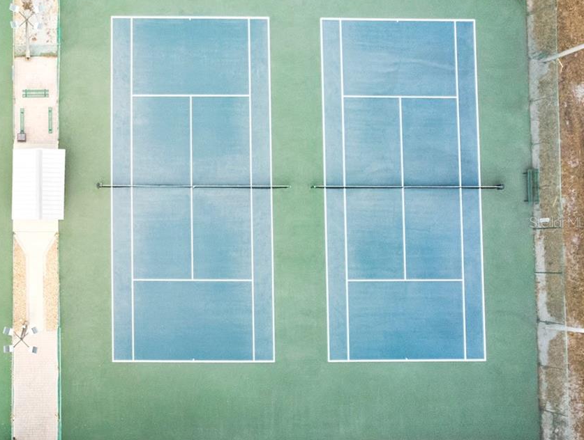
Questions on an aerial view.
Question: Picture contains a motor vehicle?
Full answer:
No, there isn't any motor vehicle down there.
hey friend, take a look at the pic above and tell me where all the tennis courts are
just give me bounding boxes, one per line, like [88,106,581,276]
[320,19,486,362]
[112,17,275,362]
